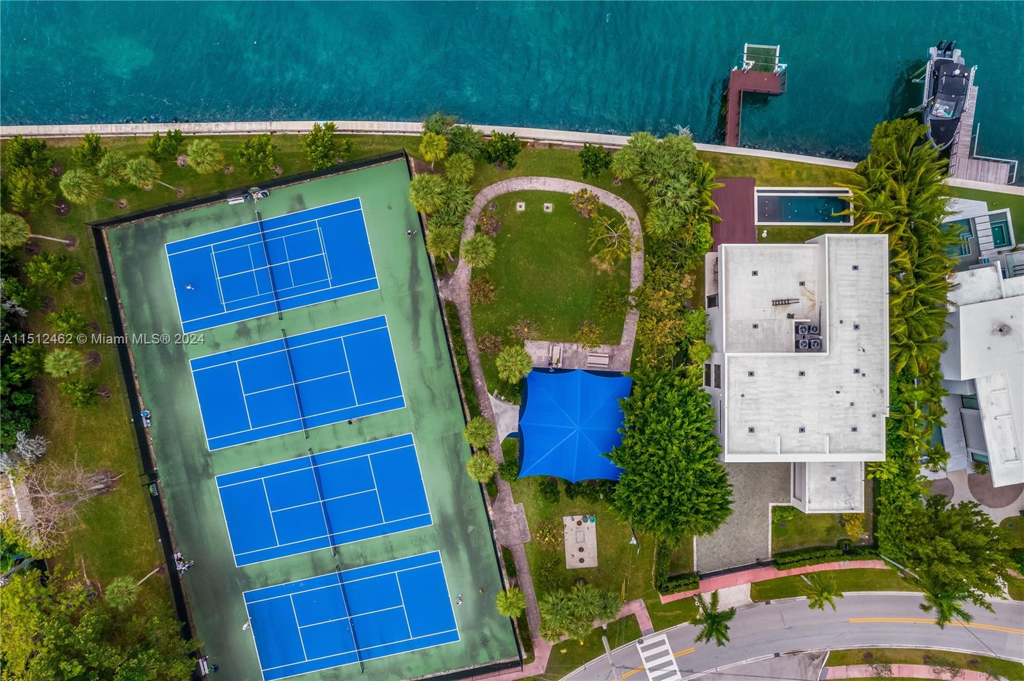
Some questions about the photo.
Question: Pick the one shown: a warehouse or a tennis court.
tennis court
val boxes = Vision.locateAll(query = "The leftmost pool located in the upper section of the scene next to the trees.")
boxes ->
[754,187,853,226]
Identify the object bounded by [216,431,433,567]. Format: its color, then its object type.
blue tennis court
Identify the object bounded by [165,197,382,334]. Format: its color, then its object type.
blue tennis court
